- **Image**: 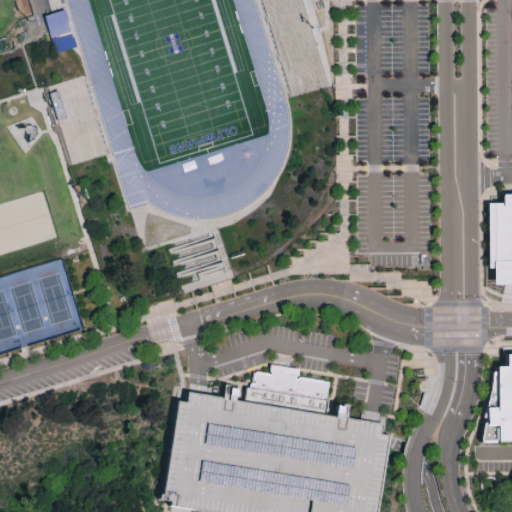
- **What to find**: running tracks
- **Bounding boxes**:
[68,0,290,218]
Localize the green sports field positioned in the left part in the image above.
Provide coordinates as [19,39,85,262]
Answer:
[89,0,269,170]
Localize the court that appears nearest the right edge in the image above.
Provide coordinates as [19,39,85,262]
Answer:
[38,273,74,325]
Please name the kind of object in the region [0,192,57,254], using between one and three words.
sports court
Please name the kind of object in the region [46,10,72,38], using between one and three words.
building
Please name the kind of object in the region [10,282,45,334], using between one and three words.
tennis court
